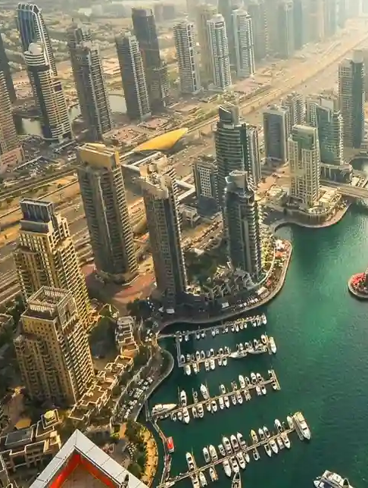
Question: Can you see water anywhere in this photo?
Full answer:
Yes, there's water in this view.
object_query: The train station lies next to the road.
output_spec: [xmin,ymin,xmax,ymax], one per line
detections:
[131,127,193,153]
